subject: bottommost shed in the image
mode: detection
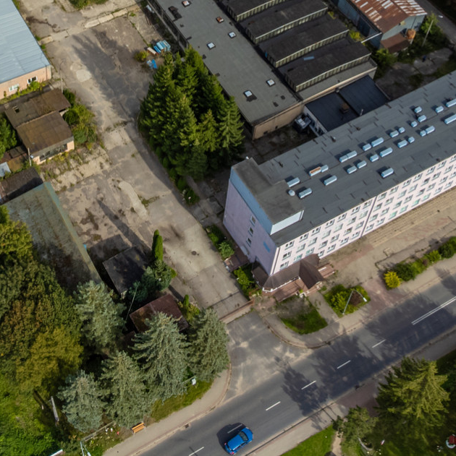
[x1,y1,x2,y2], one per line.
[130,293,188,340]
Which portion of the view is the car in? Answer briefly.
bottom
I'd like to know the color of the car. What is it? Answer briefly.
blue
